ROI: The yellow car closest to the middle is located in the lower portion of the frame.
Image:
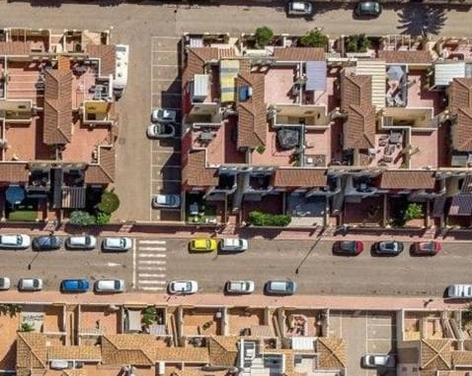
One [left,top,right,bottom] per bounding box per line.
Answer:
[190,238,215,252]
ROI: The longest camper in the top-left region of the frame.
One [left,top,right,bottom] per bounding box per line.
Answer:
[115,43,135,97]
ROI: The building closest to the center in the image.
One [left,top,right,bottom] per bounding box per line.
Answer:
[180,102,303,194]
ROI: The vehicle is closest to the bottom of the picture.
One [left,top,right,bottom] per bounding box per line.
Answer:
[363,354,393,368]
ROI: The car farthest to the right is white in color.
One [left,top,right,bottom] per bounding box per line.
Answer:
[446,284,472,298]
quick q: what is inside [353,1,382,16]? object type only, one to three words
car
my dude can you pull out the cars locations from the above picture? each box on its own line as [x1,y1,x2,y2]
[150,108,178,122]
[373,240,401,255]
[363,354,393,368]
[265,280,294,295]
[34,235,61,250]
[410,240,439,255]
[333,240,361,255]
[148,122,176,138]
[68,235,96,250]
[190,238,215,252]
[353,1,382,16]
[225,280,253,295]
[446,284,472,298]
[0,276,12,291]
[19,277,43,292]
[103,237,131,251]
[95,278,124,294]
[169,280,196,295]
[0,234,29,249]
[219,238,247,253]
[62,278,89,293]
[285,0,313,15]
